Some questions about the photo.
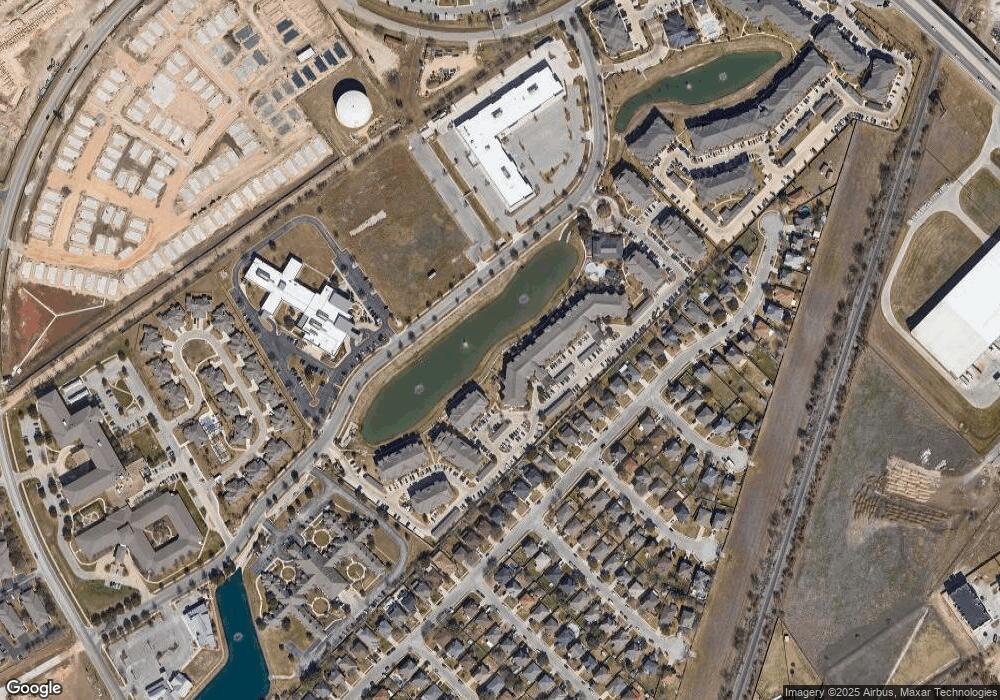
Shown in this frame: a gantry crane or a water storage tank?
water storage tank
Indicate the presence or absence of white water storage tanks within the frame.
Yes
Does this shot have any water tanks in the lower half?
No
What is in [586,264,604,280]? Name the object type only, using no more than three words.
swimming pool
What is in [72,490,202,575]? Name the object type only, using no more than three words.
building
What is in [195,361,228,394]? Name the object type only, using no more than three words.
house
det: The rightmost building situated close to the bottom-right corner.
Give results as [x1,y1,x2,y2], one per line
[949,583,992,630]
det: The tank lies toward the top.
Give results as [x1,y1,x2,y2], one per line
[335,90,372,127]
